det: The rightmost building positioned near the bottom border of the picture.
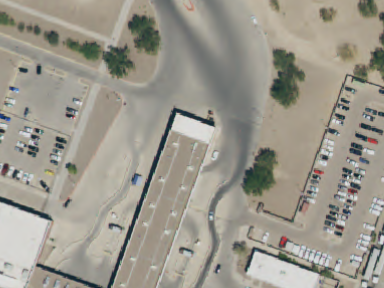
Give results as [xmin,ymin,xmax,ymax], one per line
[247,248,318,288]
